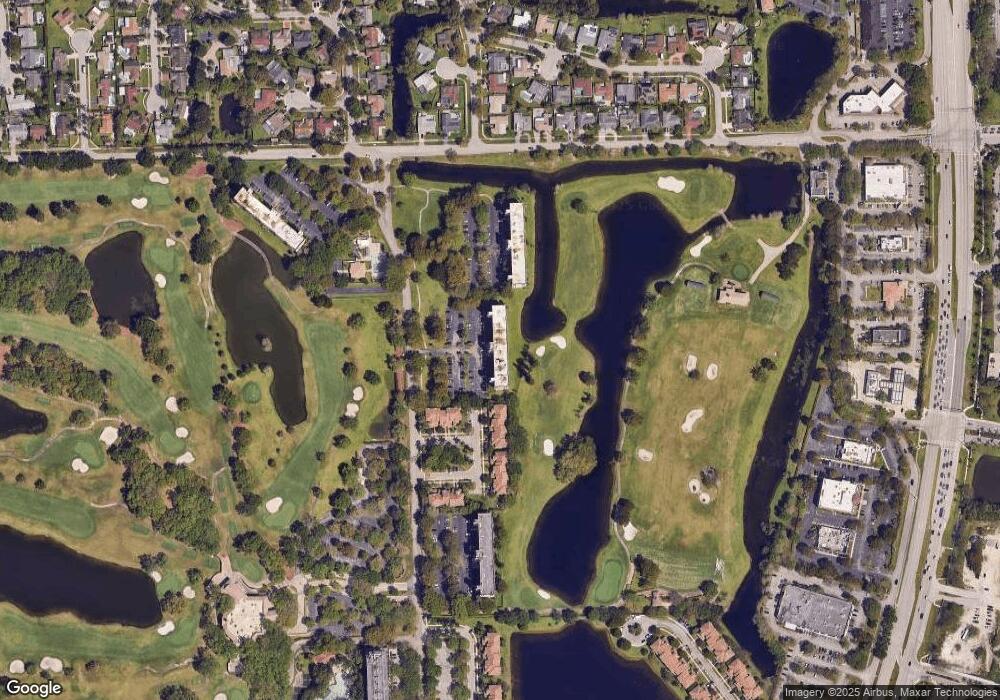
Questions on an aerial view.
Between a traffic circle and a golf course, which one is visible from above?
golf course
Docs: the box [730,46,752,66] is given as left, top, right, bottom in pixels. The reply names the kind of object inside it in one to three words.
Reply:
house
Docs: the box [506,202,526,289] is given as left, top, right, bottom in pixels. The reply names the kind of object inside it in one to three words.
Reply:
building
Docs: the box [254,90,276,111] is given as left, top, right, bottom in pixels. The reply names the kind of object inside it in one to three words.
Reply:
house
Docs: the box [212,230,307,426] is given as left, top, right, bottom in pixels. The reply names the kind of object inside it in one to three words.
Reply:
pond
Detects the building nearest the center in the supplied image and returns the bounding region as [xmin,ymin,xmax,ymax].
[487,305,508,391]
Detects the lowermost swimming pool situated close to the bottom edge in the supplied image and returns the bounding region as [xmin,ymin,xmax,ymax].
[321,663,349,700]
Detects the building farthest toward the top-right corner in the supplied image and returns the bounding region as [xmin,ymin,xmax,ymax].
[843,81,904,114]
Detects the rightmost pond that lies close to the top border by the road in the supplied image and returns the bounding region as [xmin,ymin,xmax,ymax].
[768,21,835,122]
